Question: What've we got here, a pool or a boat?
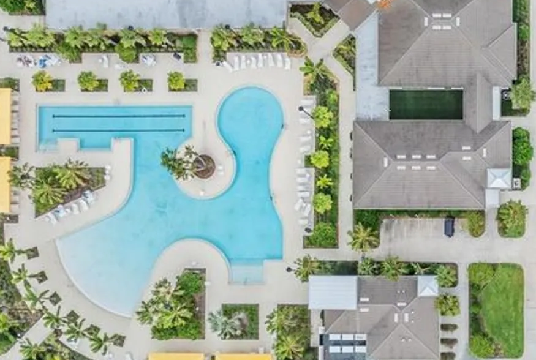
pool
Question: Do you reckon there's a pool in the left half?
Yes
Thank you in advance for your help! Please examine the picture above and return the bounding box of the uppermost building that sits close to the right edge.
[352,0,517,208]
